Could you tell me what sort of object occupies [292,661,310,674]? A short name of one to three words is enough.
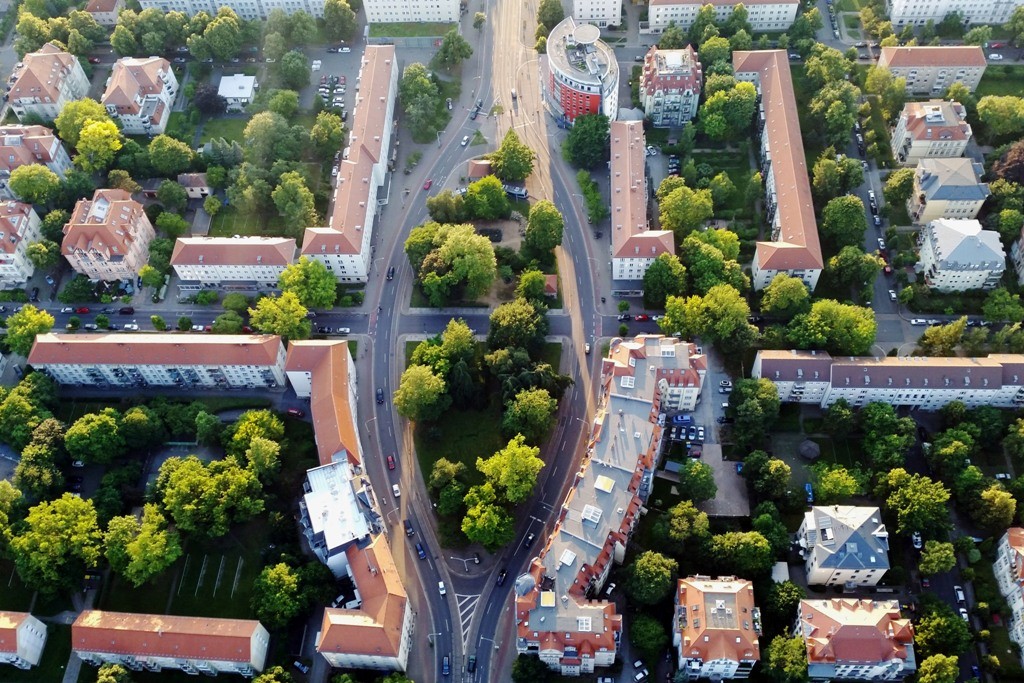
vehicle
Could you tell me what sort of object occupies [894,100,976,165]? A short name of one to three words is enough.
house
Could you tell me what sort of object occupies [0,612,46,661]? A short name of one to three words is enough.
building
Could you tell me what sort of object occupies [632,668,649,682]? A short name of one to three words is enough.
car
